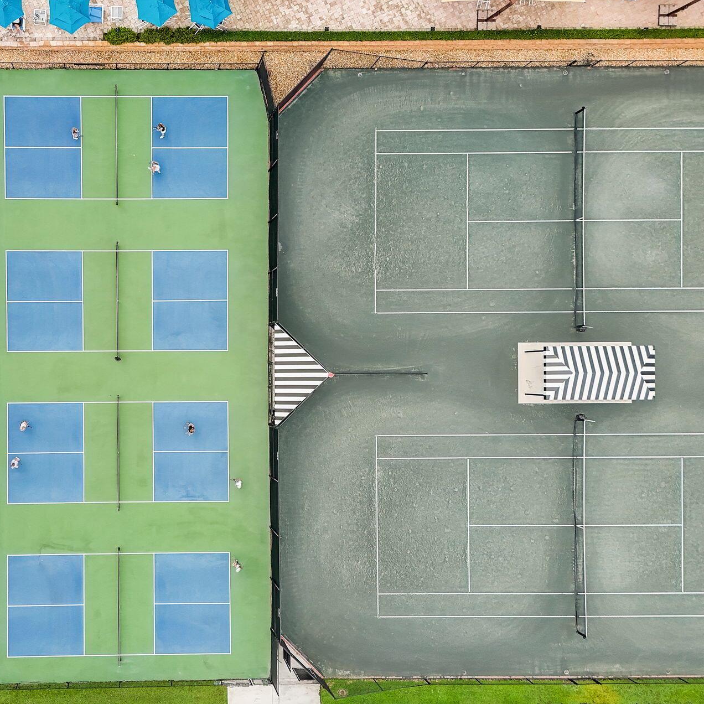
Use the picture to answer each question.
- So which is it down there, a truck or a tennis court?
tennis court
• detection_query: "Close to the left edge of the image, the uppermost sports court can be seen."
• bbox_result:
[0,70,271,225]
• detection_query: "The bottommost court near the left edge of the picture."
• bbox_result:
[0,528,272,684]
